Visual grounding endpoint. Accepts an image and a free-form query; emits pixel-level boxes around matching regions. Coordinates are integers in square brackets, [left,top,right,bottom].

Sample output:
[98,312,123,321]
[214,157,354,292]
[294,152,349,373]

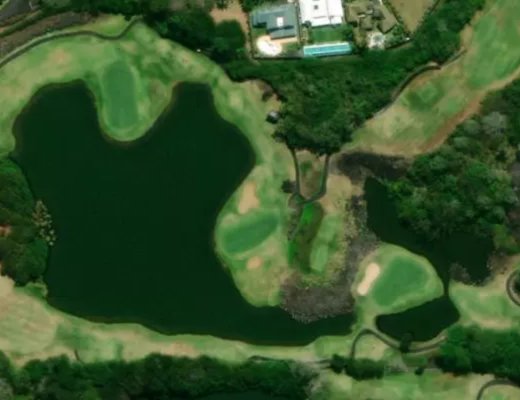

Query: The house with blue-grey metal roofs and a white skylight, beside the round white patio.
[250,1,298,40]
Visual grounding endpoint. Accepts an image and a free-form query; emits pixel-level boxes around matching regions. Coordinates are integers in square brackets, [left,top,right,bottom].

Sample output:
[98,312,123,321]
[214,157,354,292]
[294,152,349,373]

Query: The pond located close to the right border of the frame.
[362,176,495,341]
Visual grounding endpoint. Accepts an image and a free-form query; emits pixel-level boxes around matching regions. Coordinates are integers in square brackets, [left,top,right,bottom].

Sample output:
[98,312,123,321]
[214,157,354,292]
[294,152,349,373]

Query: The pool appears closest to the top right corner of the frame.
[303,42,351,57]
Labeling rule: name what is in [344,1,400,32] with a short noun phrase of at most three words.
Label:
house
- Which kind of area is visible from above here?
golf course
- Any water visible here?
Yes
